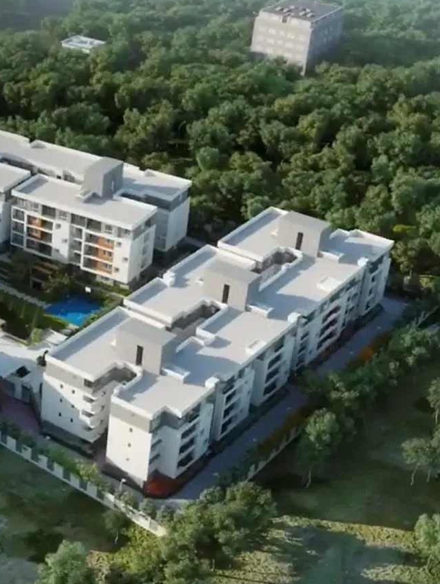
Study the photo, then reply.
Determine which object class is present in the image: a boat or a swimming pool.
swimming pool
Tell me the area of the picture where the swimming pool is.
left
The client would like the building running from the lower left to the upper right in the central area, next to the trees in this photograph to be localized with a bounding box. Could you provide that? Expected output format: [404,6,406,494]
[47,205,393,486]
